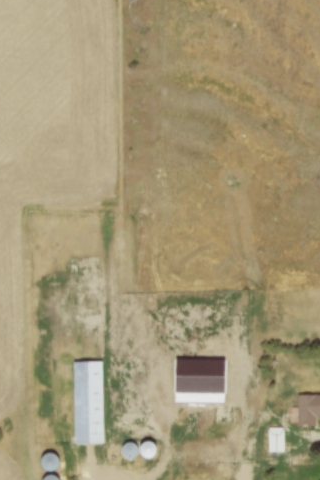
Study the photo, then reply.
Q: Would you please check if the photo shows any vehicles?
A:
No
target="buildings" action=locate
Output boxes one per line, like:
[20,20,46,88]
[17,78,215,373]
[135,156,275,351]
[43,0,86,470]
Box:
[175,358,227,406]
[268,427,284,454]
[73,360,104,444]
[290,394,320,428]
